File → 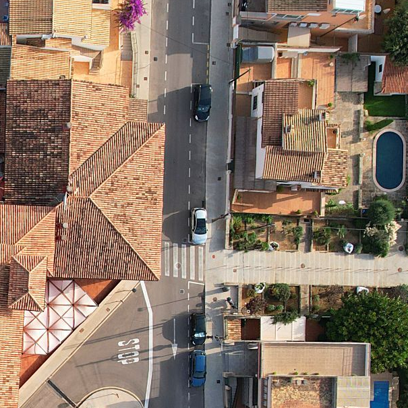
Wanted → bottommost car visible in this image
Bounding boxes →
[187,350,209,388]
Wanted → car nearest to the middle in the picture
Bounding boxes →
[189,206,210,244]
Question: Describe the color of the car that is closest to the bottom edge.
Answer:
blue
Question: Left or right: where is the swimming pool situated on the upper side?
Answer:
right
